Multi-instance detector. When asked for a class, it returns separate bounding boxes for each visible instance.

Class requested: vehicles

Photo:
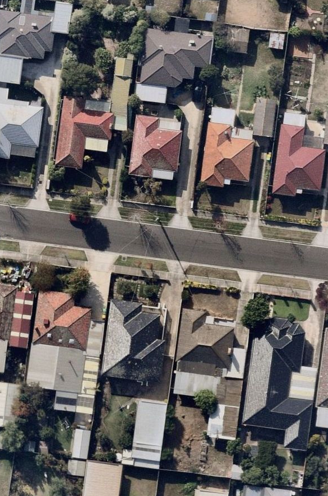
[69,213,90,224]
[192,80,204,105]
